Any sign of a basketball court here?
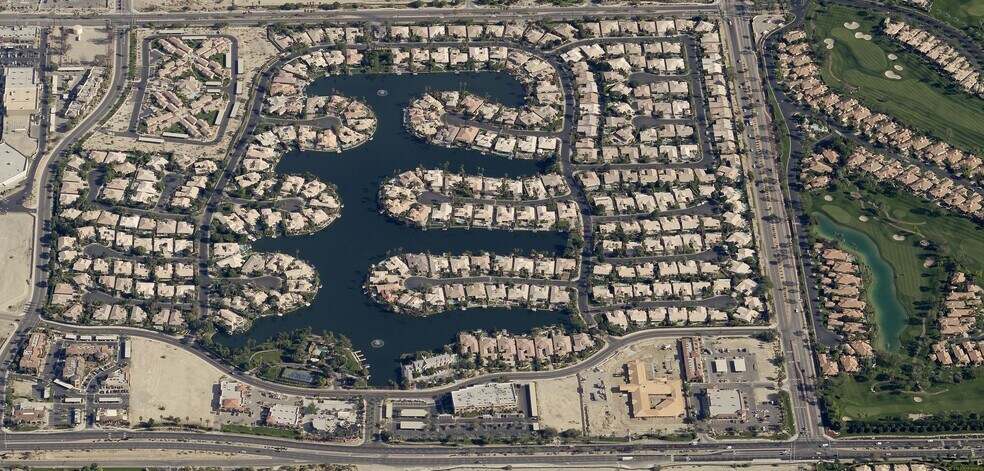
No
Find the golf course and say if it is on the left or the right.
right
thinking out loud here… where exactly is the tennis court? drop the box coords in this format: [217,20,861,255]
[278,362,320,384]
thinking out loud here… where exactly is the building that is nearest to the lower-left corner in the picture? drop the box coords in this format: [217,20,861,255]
[12,409,45,430]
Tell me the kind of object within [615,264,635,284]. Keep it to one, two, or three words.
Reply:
house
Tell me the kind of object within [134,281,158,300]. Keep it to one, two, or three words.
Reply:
house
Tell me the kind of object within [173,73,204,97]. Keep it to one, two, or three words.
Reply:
building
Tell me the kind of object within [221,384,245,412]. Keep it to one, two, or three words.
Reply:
building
